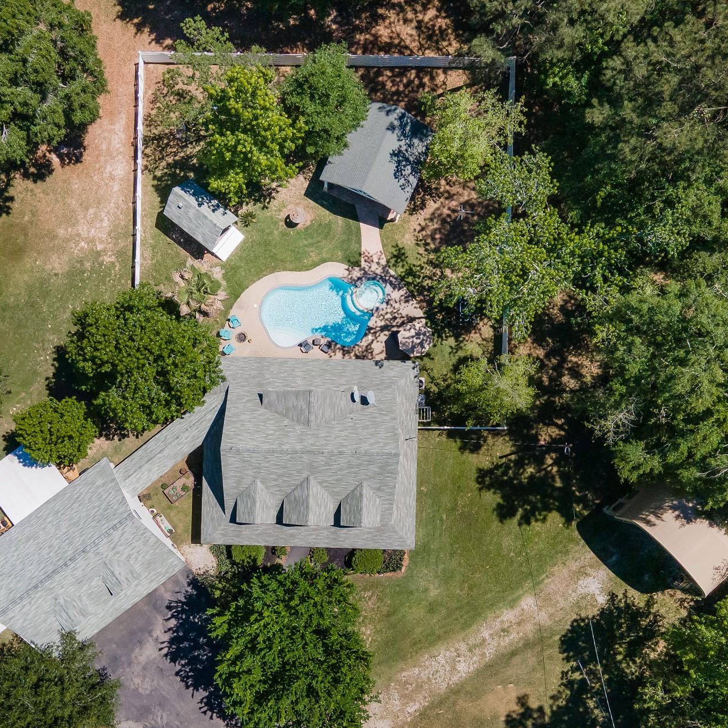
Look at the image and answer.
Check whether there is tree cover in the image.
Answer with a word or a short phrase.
Yes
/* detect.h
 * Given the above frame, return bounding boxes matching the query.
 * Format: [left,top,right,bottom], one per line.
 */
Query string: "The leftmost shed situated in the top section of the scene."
[163,180,248,265]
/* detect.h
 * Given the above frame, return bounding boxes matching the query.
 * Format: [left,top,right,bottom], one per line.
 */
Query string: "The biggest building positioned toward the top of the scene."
[317,96,434,218]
